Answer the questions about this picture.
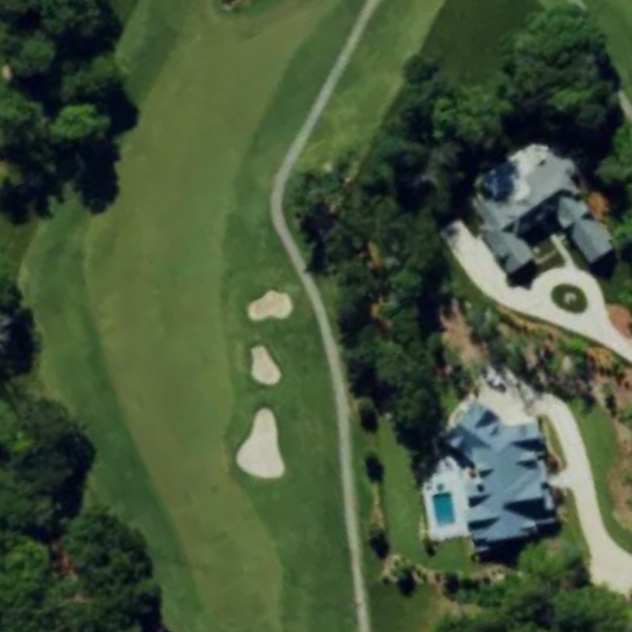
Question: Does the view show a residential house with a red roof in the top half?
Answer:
No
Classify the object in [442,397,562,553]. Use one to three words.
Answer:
house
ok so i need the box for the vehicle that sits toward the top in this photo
[442,227,459,240]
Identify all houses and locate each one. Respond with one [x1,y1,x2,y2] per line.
[467,147,619,270]
[442,397,562,553]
